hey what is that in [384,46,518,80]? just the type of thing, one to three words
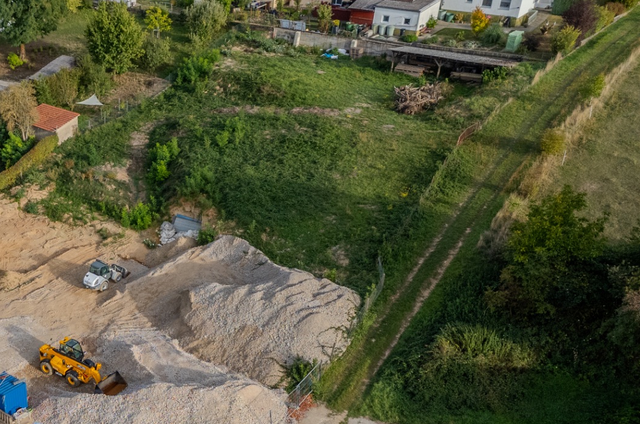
shed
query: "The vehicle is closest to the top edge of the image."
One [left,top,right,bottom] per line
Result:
[79,254,134,293]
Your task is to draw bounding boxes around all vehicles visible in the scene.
[34,336,123,395]
[79,254,134,293]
